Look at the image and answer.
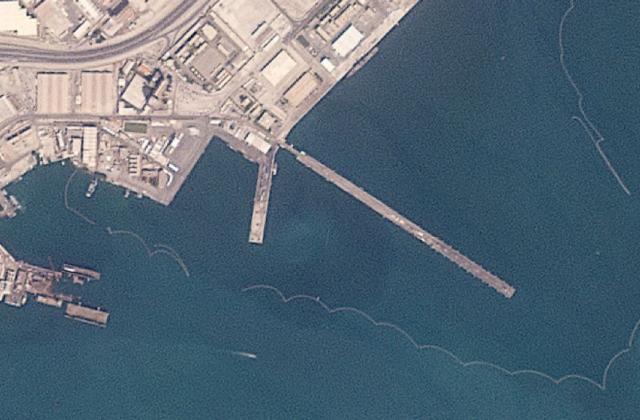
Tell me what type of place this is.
port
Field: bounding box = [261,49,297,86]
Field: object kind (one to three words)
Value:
building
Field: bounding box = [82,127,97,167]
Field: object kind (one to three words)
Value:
building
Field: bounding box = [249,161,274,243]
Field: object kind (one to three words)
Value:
pier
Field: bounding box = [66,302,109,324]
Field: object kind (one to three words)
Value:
pier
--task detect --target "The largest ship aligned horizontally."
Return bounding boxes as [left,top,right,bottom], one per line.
[64,264,101,279]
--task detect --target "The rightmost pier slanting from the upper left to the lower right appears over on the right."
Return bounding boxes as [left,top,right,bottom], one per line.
[296,154,516,299]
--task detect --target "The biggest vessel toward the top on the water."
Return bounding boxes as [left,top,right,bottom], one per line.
[347,48,378,78]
